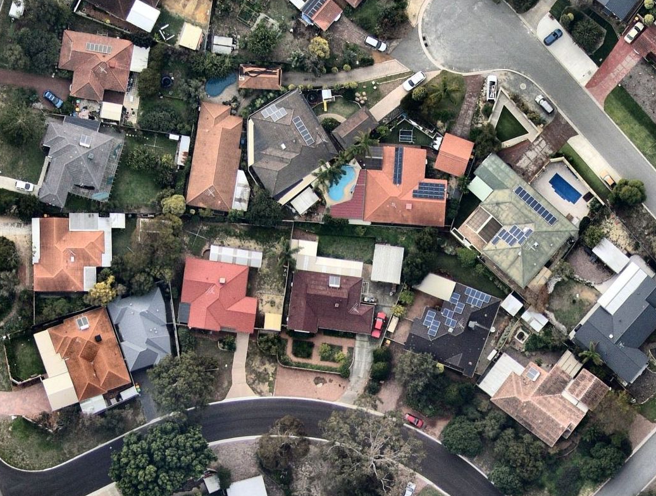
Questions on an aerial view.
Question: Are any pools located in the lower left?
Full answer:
No, no pool appears in the lower left.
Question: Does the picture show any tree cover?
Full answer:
Yes, tree cover shows up in the scene.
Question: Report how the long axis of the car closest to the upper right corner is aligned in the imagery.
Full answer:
In this picture, the car closest to the upper right corner lies diagonally.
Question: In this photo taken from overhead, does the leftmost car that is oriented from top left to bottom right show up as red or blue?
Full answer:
From above, the leftmost car that is oriented from top left to bottom right appears blue.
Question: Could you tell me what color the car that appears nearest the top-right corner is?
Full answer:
In this view, the car that appears nearest the top-right corner is white.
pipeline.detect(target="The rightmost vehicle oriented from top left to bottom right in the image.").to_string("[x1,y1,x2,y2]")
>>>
[599,170,618,190]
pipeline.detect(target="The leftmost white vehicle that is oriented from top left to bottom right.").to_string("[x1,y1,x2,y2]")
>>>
[364,34,389,53]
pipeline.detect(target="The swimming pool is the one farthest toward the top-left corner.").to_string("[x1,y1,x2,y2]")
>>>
[206,76,231,98]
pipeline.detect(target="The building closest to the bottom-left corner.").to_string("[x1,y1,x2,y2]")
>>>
[34,306,138,414]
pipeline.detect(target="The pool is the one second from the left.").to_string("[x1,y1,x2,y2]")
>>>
[329,165,358,203]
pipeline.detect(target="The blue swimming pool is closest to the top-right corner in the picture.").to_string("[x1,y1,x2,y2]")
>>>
[549,173,582,204]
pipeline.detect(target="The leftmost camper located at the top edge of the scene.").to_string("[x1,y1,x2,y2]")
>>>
[9,0,23,23]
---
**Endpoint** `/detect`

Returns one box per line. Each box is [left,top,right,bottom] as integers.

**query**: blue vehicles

[42,89,64,110]
[543,28,565,46]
